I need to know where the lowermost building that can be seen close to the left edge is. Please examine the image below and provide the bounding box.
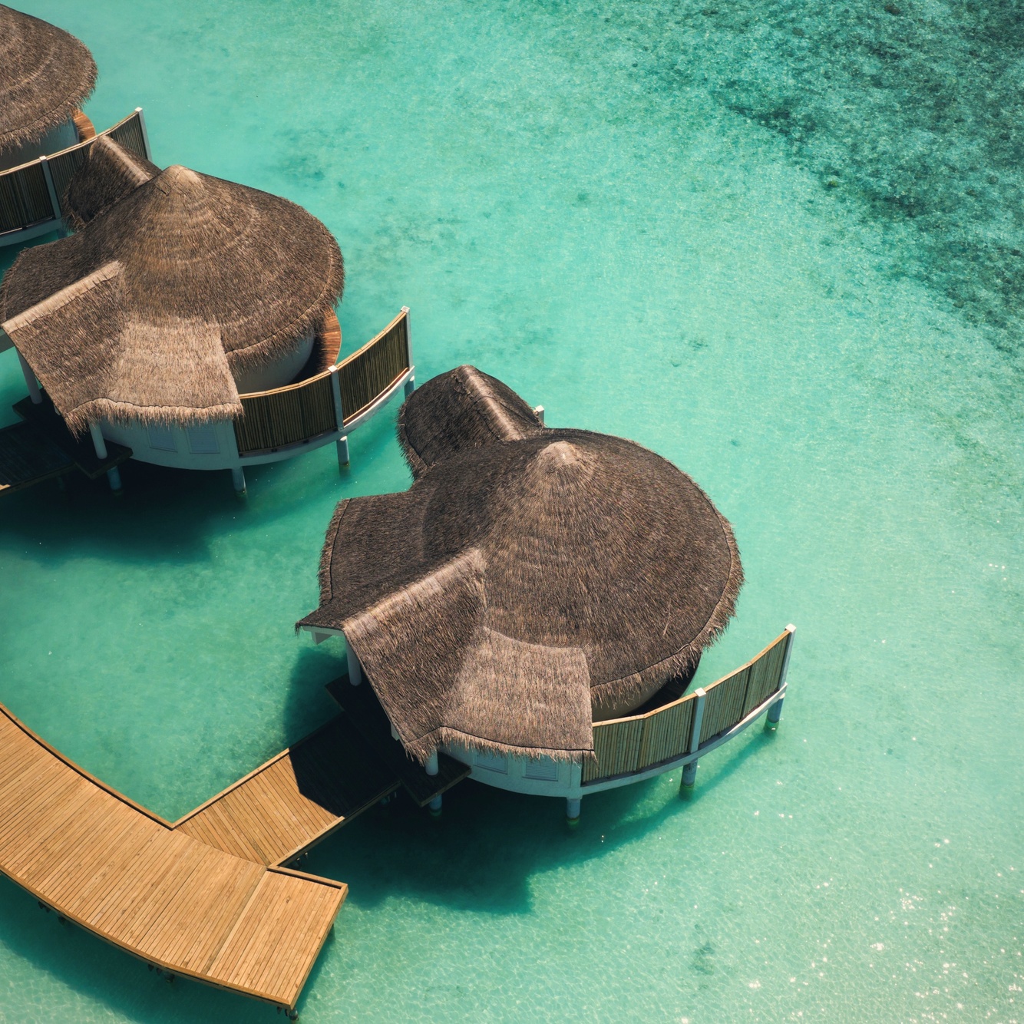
[0,136,357,519]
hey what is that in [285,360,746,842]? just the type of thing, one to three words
house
